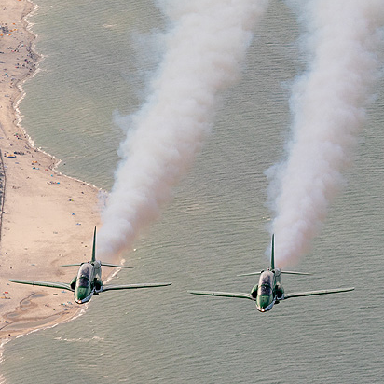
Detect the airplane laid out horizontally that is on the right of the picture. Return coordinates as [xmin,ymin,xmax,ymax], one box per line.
[188,232,353,311]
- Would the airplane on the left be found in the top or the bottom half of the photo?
bottom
